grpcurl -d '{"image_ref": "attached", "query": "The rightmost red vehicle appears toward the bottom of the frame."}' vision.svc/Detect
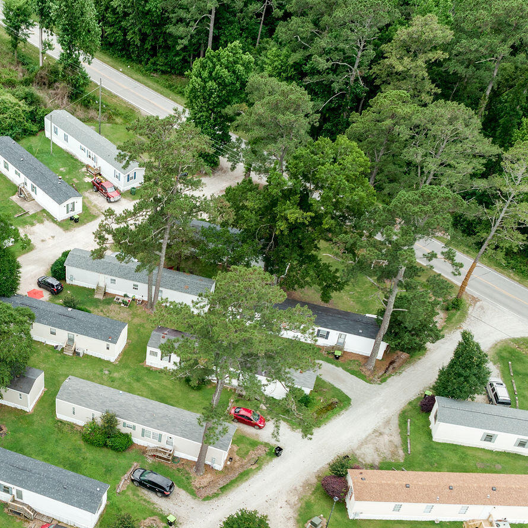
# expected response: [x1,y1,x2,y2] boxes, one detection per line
[229,406,266,430]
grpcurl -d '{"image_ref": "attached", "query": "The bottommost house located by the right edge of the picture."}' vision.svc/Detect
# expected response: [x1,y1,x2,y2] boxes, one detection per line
[344,470,528,524]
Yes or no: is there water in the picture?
No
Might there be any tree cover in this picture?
Yes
